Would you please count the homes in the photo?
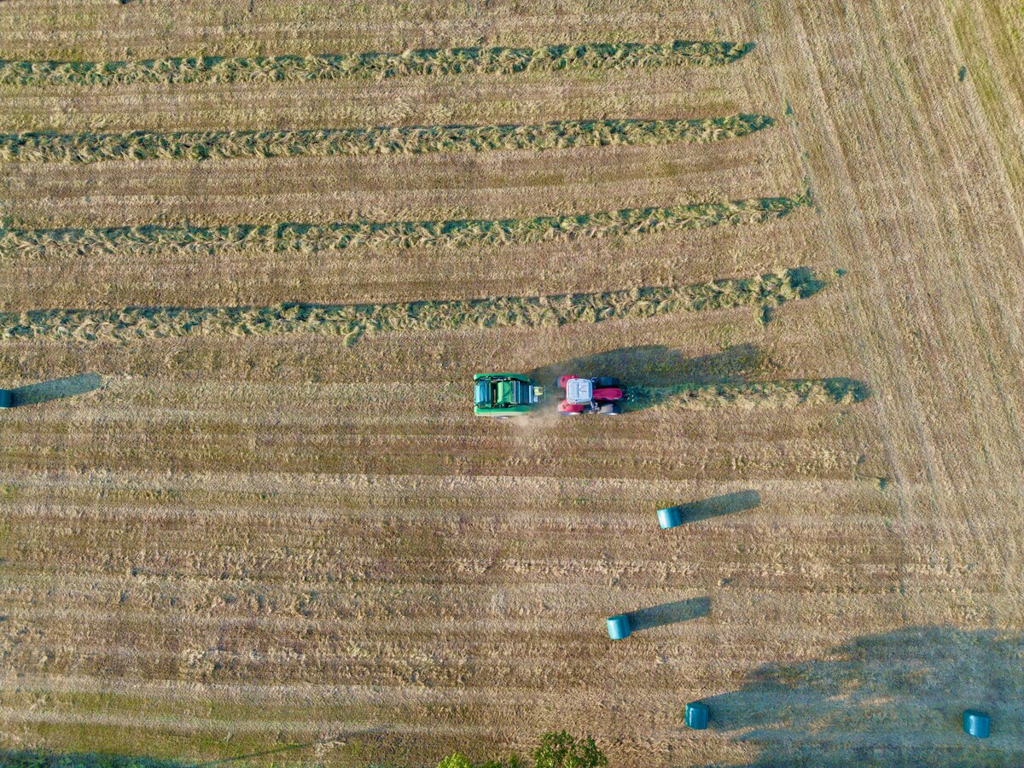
0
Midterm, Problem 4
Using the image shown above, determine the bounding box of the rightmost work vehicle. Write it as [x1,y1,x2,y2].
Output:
[554,372,626,416]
